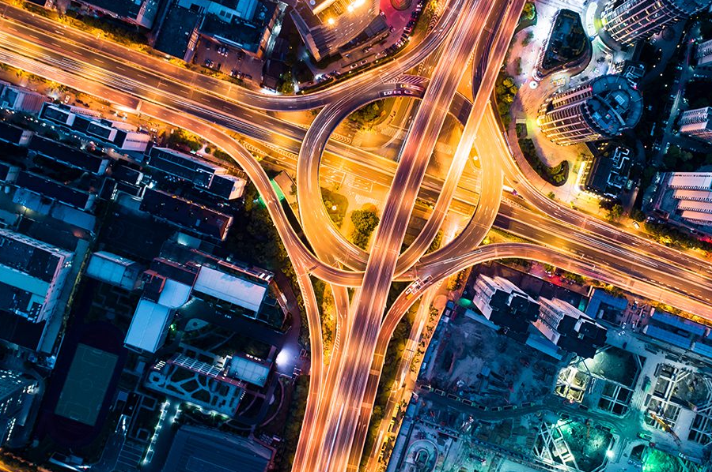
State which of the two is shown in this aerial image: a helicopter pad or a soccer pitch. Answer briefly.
soccer pitch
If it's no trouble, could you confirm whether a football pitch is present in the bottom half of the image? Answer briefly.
Yes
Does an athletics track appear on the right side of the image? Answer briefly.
No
